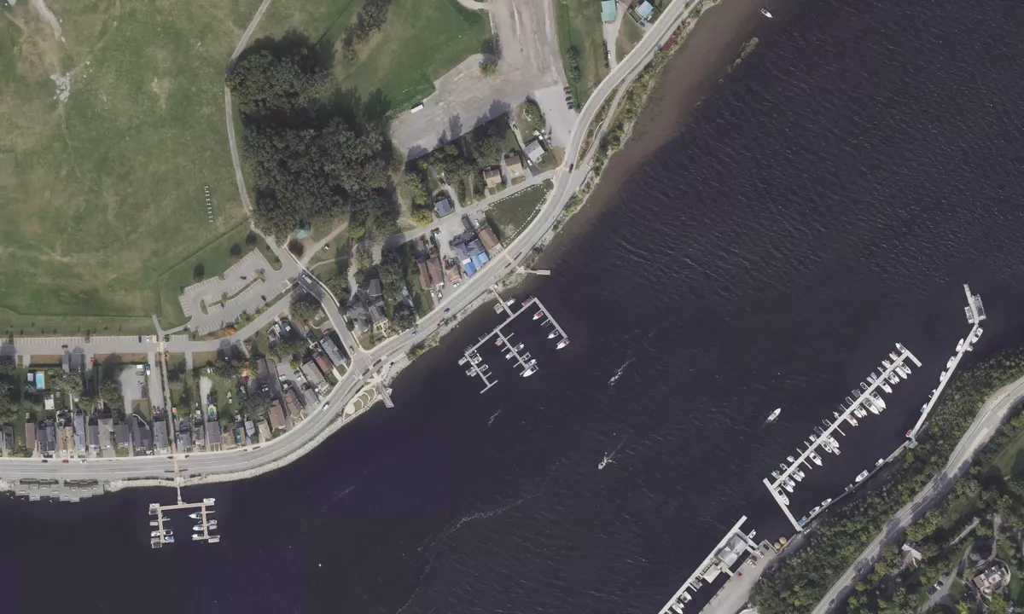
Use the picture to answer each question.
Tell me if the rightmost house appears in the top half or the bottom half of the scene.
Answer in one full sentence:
You can find the rightmost house in the bottom half.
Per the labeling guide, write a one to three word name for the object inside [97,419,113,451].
house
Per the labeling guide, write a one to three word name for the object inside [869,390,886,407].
boat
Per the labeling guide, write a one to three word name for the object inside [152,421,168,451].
house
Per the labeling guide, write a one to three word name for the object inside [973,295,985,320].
boat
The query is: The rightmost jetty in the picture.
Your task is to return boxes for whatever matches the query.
[910,284,980,448]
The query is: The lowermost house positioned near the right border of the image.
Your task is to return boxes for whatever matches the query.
[971,564,1007,595]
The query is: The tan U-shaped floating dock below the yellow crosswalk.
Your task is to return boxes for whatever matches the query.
[150,485,220,544]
